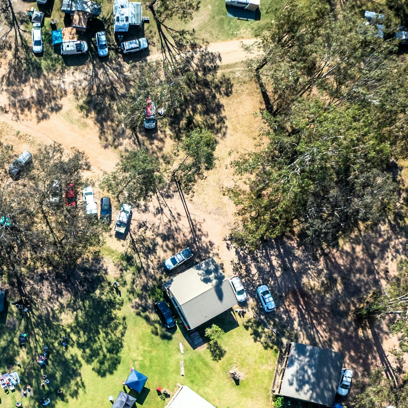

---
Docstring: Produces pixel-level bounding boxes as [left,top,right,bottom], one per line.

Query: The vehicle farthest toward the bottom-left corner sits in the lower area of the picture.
[156,300,175,328]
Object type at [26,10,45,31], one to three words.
gazebo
